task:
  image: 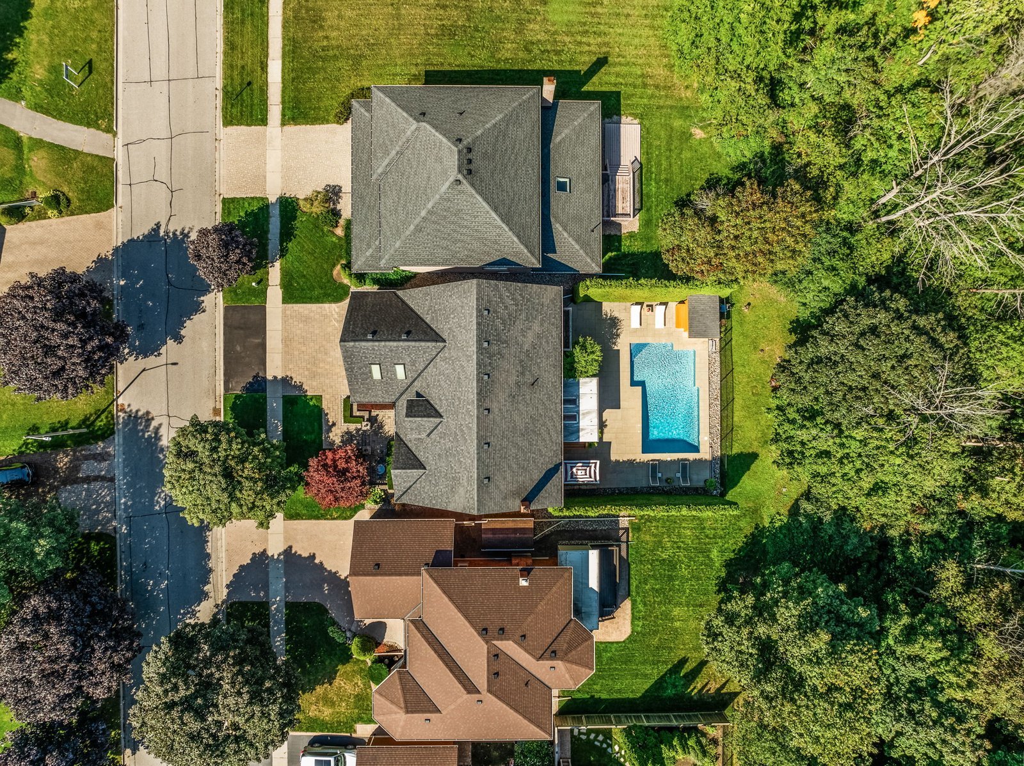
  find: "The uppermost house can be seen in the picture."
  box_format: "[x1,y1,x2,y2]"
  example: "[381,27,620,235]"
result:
[350,73,603,275]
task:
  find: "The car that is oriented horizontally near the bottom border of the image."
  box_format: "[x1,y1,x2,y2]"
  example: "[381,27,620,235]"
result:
[301,743,355,766]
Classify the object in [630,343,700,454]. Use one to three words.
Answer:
swimming pool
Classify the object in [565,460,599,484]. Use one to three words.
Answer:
umbrella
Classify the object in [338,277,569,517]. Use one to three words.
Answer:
house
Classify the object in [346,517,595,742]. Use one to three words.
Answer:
house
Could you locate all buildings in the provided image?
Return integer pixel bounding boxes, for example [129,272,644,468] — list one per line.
[338,277,569,517]
[346,517,595,742]
[350,73,603,275]
[677,294,722,338]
